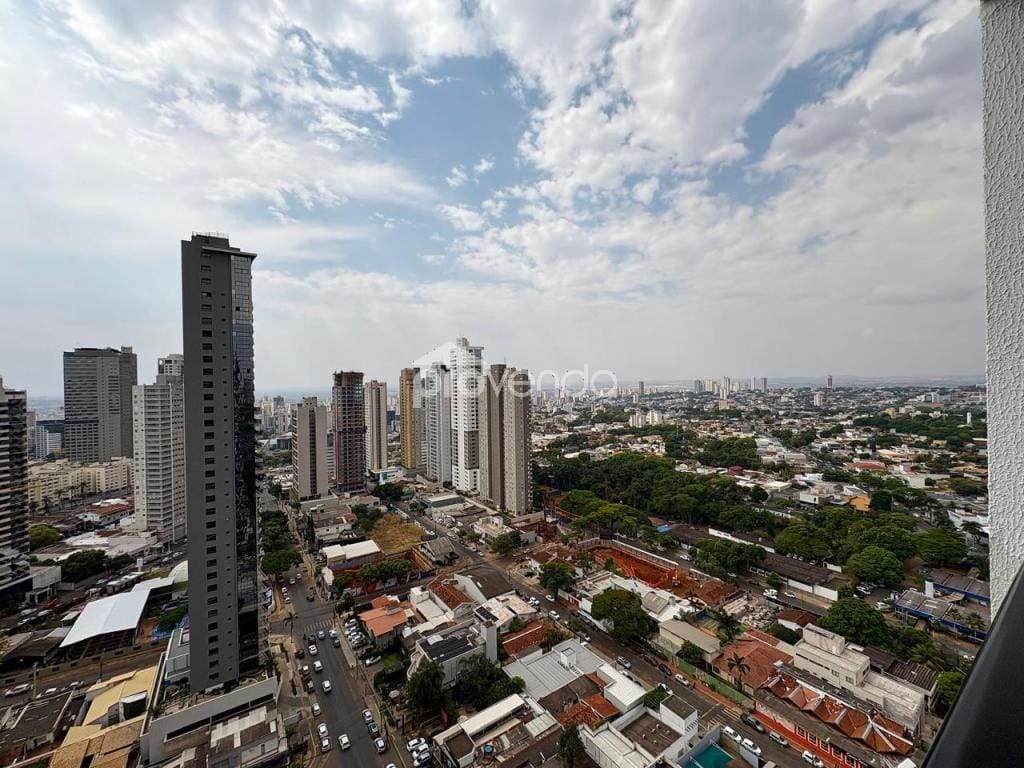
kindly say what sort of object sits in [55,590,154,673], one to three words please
building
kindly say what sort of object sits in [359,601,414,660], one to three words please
building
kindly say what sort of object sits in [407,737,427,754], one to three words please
car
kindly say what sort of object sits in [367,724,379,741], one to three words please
vehicle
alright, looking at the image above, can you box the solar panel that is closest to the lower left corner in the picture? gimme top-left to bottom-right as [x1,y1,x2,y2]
[424,631,478,661]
